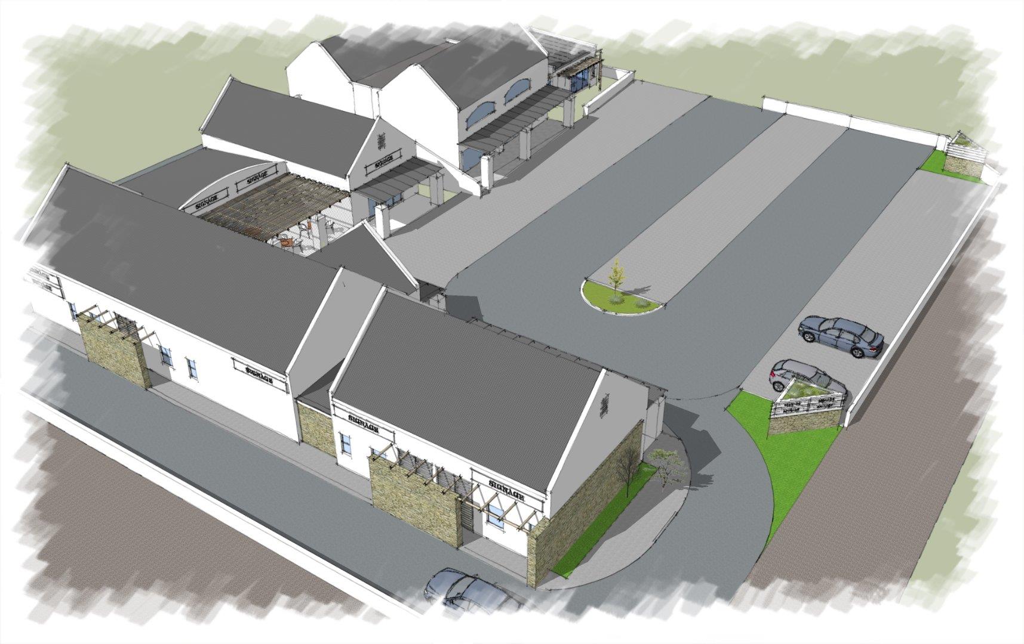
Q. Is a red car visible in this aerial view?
No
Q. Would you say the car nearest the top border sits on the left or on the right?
right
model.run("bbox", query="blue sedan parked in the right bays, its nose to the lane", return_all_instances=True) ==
[796,317,888,359]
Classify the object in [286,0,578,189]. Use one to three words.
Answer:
building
